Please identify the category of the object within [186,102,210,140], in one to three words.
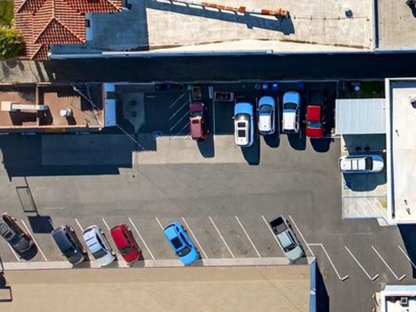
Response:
car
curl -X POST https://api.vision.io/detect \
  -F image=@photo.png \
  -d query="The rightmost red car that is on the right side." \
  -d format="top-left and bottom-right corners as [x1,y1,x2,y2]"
[304,103,325,138]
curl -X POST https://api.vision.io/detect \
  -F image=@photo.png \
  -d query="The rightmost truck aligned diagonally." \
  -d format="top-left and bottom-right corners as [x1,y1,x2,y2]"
[268,214,306,262]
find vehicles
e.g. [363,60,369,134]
[268,214,306,262]
[80,224,117,267]
[231,103,254,147]
[339,153,384,175]
[280,91,301,133]
[255,96,277,135]
[164,221,199,264]
[186,102,210,140]
[304,103,325,138]
[109,223,143,265]
[51,224,87,266]
[0,212,35,260]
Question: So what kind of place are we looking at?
parking lot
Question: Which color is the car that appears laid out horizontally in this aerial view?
white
